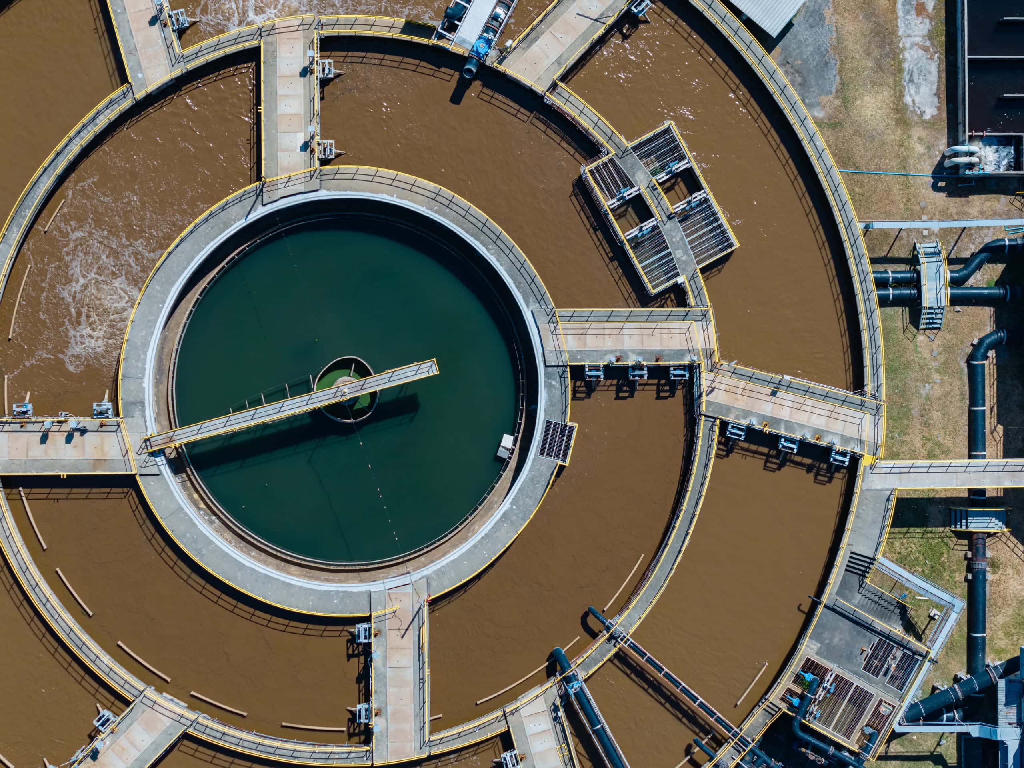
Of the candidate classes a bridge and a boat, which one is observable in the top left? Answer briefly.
bridge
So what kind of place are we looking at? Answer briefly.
industrial area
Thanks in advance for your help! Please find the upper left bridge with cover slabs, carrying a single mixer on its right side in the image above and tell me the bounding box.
[109,0,185,98]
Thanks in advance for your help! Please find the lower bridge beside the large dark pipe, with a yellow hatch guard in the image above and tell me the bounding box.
[505,675,580,768]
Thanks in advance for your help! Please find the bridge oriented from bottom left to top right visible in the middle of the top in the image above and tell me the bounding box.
[492,0,634,94]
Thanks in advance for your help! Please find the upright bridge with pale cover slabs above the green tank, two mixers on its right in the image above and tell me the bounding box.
[262,14,320,205]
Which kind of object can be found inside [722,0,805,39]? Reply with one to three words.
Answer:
shed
